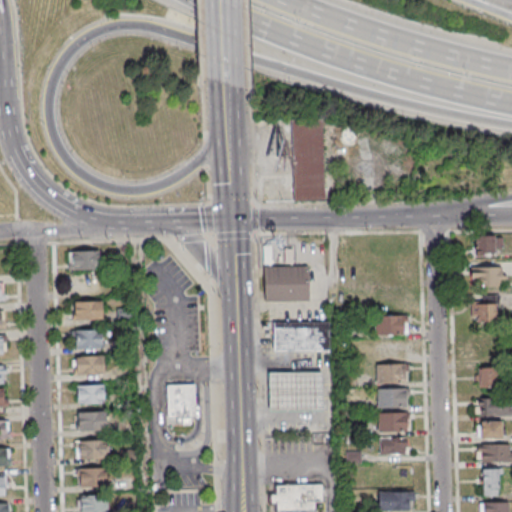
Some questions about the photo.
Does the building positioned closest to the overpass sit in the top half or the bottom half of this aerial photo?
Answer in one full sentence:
The building positioned closest to the overpass sits in the top half of the picture.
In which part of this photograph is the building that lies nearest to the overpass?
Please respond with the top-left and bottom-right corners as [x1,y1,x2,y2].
[293,118,325,201]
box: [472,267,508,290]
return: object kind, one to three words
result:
house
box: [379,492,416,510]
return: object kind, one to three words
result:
house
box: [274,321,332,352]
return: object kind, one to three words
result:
building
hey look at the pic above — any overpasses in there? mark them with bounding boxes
[198,0,252,123]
